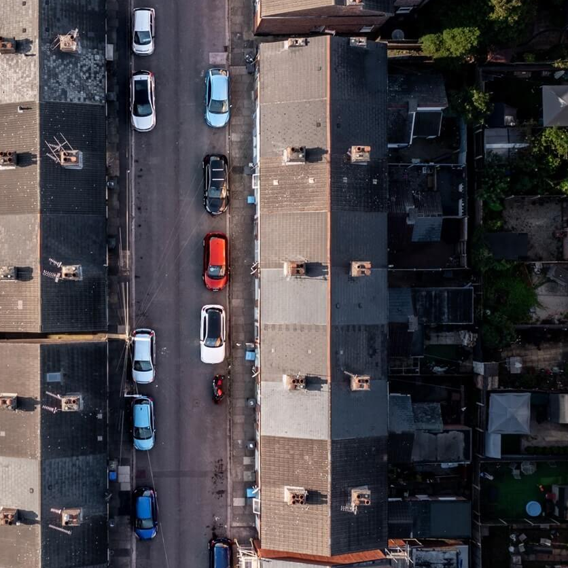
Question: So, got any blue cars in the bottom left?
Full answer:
Yes, you'll find a blue car in the bottom left.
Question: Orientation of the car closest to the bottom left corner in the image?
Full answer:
The car closest to the bottom left corner is oriented up and down.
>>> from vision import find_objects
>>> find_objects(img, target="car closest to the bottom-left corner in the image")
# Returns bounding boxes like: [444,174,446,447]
[130,486,157,539]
